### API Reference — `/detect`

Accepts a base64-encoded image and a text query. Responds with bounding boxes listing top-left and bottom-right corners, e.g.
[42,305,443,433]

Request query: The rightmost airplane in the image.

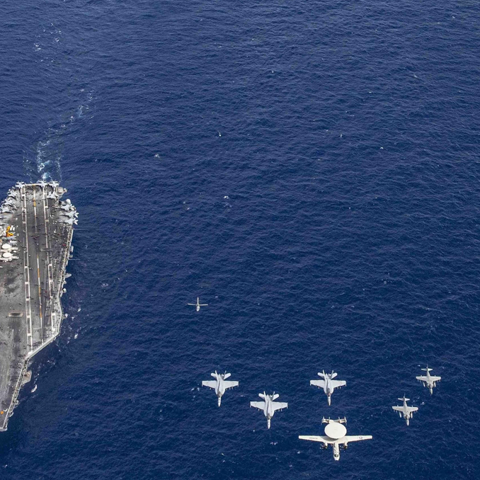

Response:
[416,362,440,392]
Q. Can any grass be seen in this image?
No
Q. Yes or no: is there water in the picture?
Yes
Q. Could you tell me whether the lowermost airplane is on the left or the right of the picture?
right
